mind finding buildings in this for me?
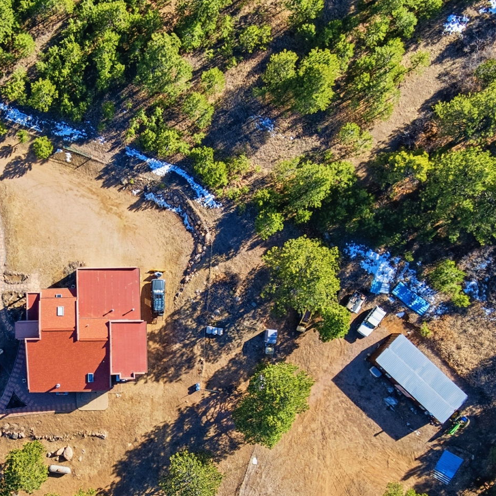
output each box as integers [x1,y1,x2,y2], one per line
[16,266,146,394]
[370,331,468,424]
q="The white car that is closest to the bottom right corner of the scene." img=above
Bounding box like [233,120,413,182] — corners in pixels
[358,306,389,338]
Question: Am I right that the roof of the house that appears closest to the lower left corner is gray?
No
